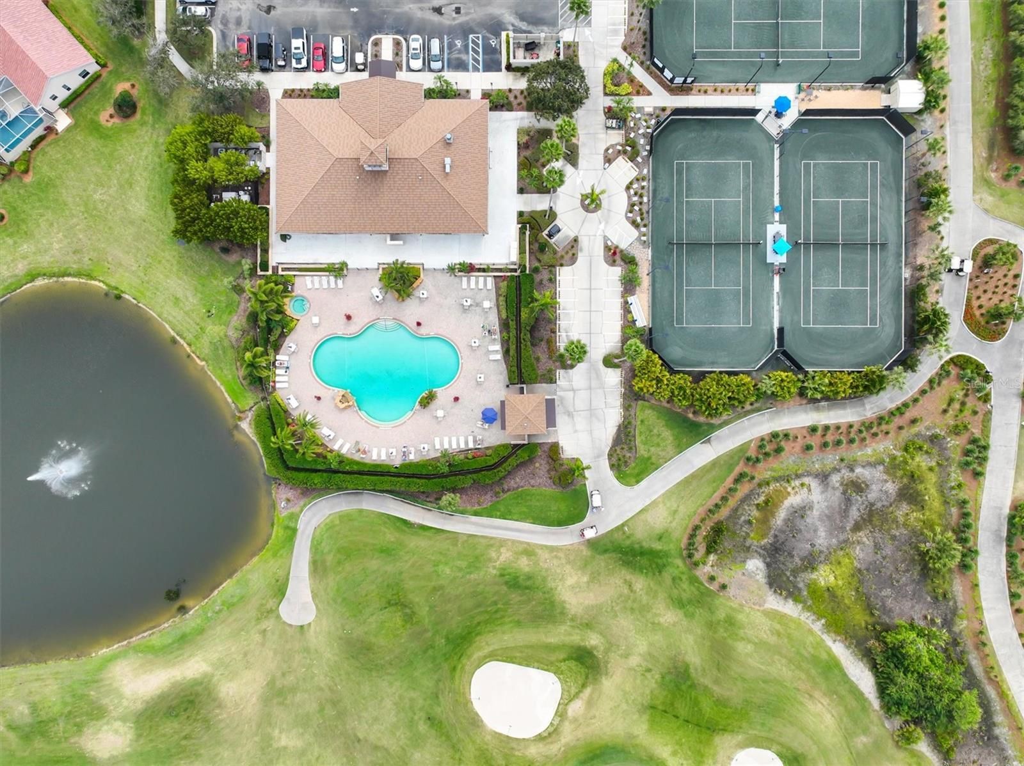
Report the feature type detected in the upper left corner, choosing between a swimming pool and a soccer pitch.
swimming pool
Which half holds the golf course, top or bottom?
bottom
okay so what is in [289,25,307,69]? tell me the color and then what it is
white vehicle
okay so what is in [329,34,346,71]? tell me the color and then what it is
white car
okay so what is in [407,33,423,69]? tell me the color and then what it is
white car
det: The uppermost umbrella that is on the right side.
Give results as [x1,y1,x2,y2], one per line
[773,97,789,114]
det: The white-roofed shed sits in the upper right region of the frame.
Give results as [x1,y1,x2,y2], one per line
[881,81,926,113]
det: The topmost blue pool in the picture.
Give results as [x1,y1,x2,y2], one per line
[0,104,45,156]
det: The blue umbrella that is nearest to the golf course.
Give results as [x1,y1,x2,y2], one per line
[482,408,497,423]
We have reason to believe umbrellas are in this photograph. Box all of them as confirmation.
[771,236,791,256]
[773,97,789,114]
[482,408,497,423]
